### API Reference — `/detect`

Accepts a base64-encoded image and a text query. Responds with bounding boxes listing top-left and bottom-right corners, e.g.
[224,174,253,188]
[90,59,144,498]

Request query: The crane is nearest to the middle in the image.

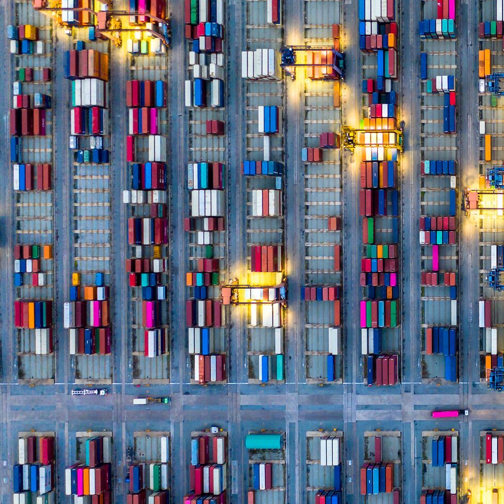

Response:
[223,277,291,309]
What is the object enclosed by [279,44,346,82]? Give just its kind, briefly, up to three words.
crane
